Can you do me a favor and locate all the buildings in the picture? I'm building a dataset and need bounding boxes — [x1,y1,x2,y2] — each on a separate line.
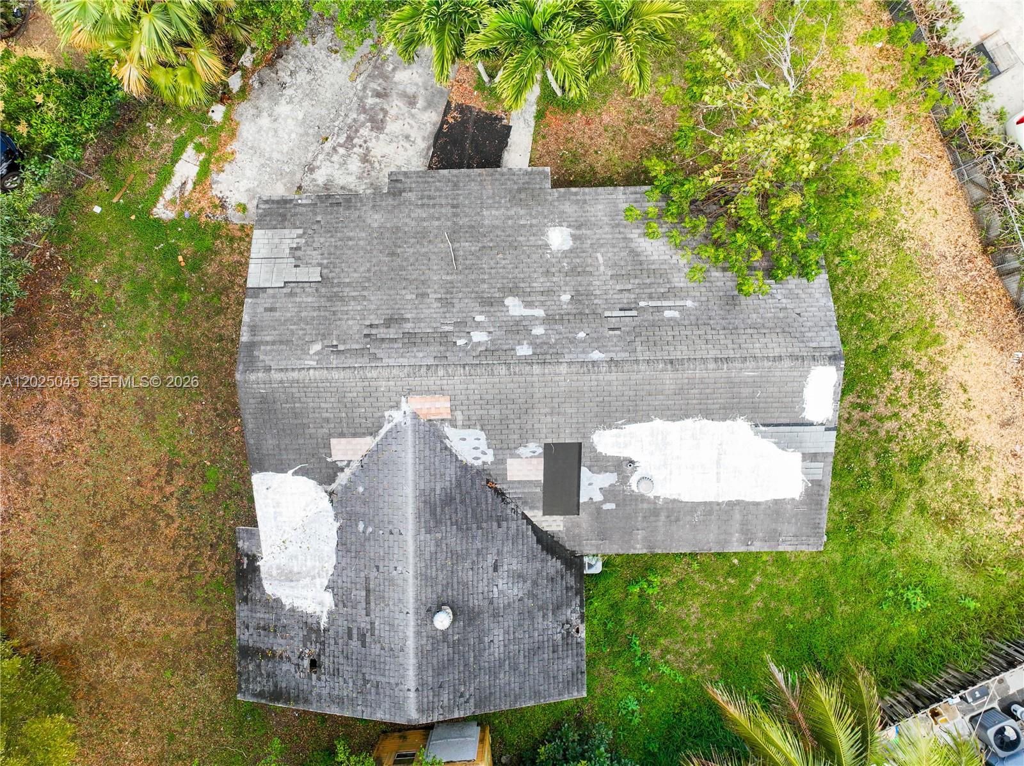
[235,166,846,724]
[361,724,491,766]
